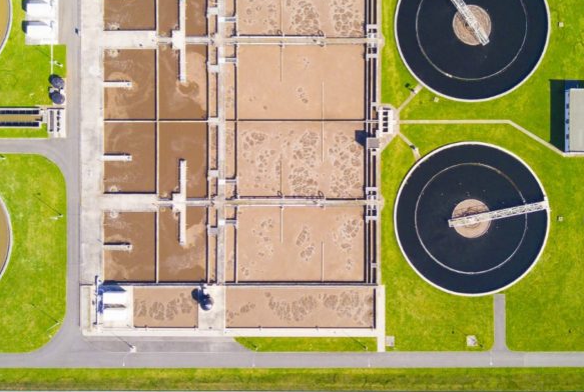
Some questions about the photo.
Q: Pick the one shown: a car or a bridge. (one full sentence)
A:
I can see a bridge in this picture.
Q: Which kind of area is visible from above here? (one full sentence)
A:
The picture captures an industrial area.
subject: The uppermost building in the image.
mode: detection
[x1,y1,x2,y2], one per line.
[27,4,57,17]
